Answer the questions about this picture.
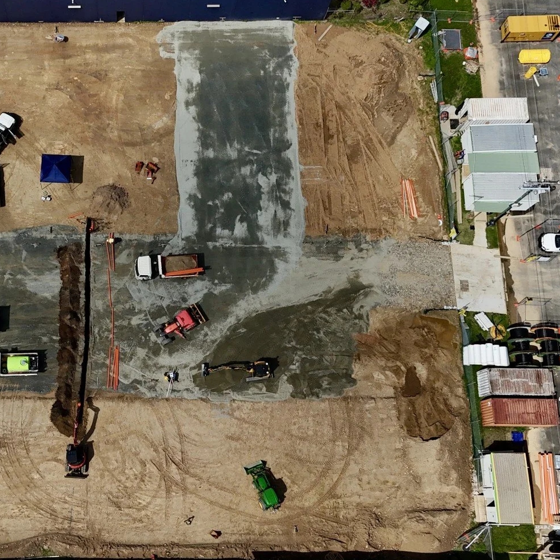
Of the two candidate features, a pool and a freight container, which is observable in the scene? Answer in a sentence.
The one in the frame is a freight container.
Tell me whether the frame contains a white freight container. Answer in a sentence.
Yes, this view includes a white freight container.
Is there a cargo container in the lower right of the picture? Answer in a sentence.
Yes, there is a cargo container in the lower right of the picture.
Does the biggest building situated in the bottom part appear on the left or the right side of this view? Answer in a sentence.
You can find the biggest building situated in the bottom part on the right side of the picture.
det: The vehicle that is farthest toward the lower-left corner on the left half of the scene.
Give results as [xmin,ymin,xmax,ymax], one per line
[63,392,90,483]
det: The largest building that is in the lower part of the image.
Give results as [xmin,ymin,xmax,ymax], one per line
[474,452,539,527]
